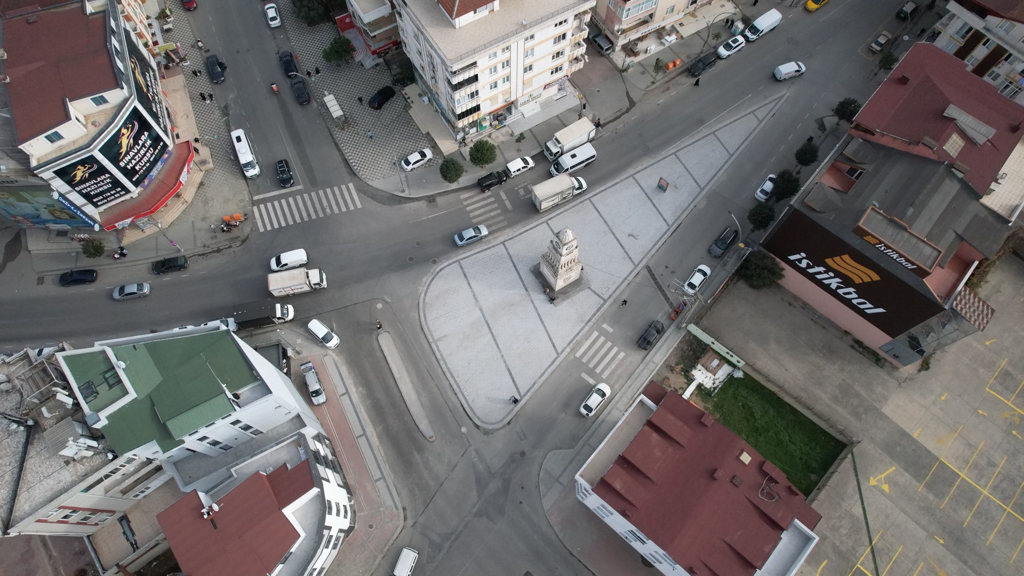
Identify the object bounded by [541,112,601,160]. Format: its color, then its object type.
white truck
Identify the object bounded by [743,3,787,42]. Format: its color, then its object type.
white van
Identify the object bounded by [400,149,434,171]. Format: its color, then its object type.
white car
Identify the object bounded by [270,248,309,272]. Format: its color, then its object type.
white vehicle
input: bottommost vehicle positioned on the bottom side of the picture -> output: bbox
[391,535,427,576]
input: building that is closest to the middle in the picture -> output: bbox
[530,228,591,307]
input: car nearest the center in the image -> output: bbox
[454,226,489,248]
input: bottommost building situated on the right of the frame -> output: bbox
[566,381,821,576]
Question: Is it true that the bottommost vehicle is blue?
No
